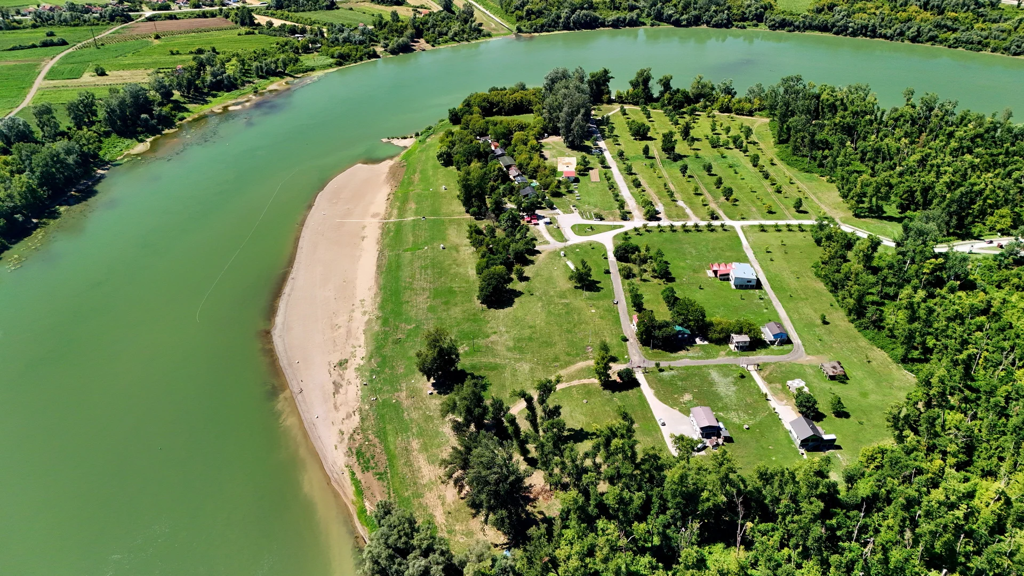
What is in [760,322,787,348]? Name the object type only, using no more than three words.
house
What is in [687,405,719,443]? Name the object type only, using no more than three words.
house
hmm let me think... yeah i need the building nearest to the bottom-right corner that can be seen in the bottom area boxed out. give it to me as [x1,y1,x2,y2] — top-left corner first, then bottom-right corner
[788,417,836,455]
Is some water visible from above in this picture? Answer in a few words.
Yes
